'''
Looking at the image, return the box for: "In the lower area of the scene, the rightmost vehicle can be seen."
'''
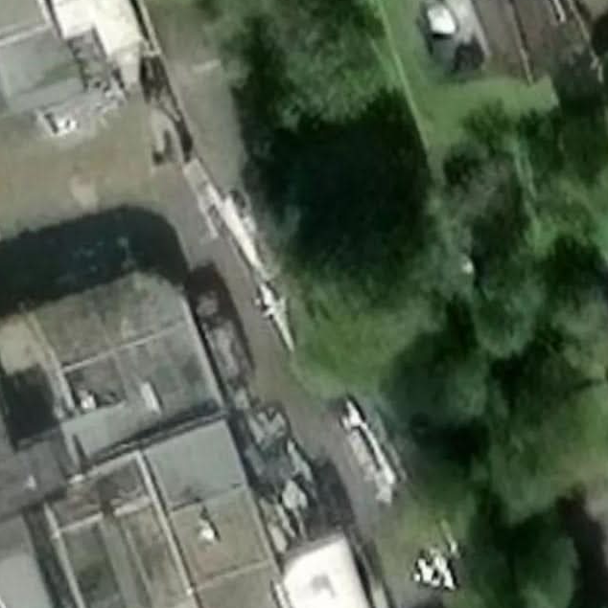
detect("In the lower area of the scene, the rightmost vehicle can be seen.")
[338,403,399,503]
